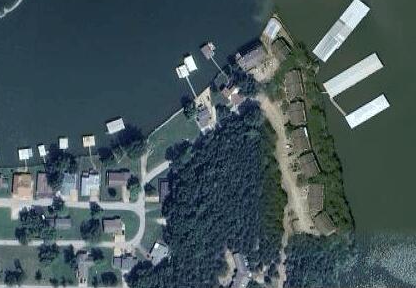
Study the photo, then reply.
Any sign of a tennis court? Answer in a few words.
No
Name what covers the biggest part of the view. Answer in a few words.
water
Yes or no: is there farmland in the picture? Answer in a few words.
No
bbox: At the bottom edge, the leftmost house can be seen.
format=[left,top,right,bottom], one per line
[78,254,95,287]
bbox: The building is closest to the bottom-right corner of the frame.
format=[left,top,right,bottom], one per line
[314,210,336,236]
